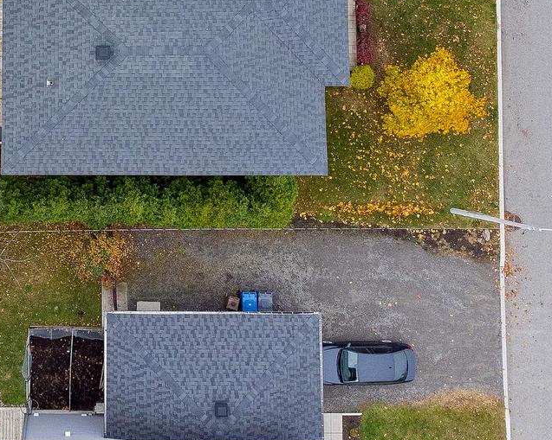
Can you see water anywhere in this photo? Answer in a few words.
No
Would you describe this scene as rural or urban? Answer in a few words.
urban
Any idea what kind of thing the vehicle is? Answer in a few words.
car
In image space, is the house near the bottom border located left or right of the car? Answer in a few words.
to its left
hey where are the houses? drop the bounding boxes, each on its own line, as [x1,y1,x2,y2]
[24,307,324,440]
[0,0,352,176]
